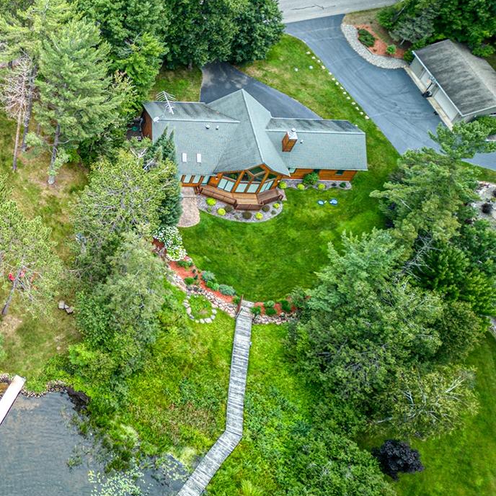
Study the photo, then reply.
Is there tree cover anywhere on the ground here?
Yes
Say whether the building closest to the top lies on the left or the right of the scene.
right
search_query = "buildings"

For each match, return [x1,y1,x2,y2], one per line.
[142,84,369,215]
[416,38,496,123]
